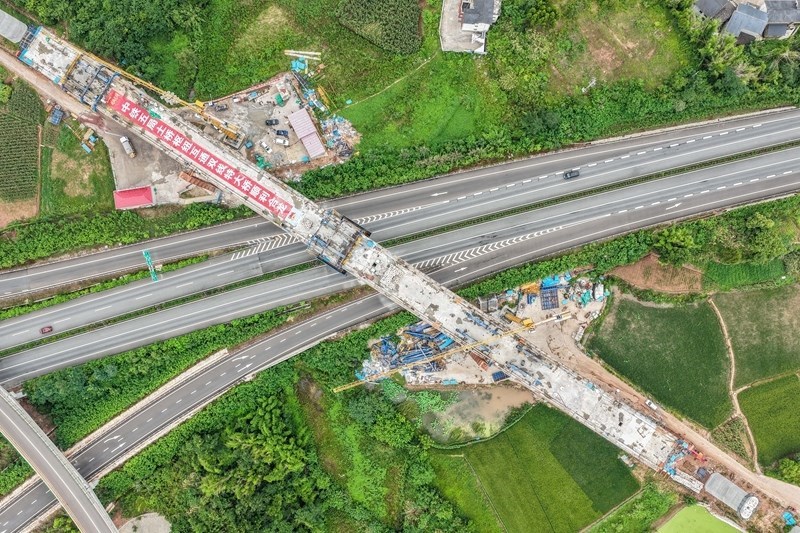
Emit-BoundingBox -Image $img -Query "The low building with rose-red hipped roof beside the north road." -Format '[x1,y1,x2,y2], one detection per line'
[114,186,157,209]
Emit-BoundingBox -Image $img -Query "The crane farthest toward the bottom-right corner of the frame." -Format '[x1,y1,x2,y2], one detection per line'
[333,303,576,393]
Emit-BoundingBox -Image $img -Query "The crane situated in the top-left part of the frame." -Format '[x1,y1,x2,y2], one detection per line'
[82,49,247,148]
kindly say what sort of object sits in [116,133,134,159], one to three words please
vehicle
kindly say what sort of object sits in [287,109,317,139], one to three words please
shed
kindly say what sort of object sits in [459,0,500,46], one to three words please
house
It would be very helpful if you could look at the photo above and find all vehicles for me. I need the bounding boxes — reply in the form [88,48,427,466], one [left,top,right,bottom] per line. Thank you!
[273,138,288,145]
[116,133,134,159]
[264,118,279,126]
[213,103,227,111]
[275,129,289,135]
[38,327,52,334]
[645,399,660,411]
[564,169,580,178]
[259,140,272,153]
